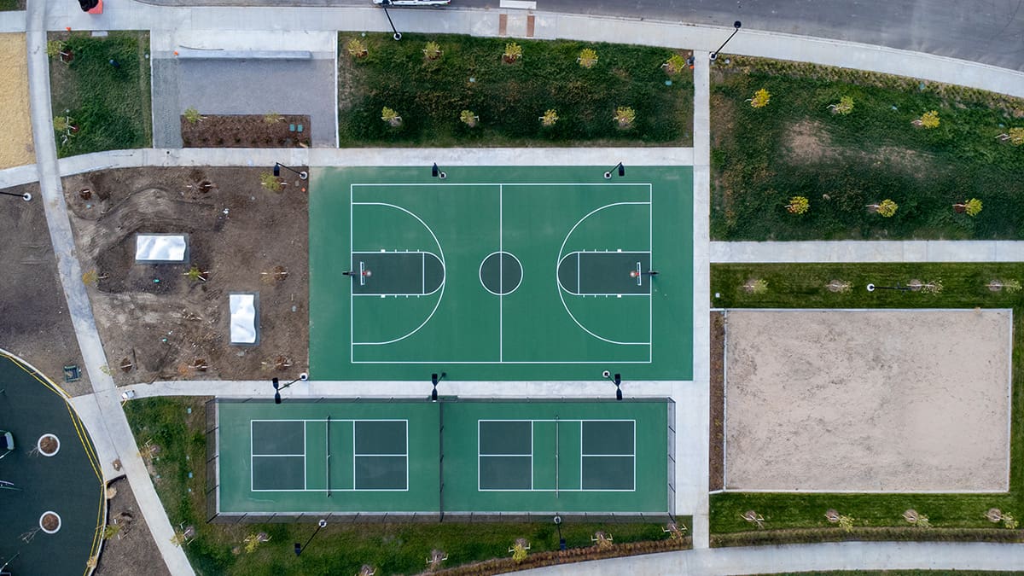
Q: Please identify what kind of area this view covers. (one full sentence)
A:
The area seen from above is a sports ground.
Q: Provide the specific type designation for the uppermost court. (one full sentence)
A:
In the photo, the uppermost court shows up as a basketball court.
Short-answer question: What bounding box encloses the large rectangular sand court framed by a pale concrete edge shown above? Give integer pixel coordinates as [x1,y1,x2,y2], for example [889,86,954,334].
[710,308,1014,496]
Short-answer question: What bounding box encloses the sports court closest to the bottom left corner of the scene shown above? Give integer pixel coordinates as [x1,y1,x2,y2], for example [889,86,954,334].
[219,395,442,512]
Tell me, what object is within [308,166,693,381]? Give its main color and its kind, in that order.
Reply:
green basketball court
